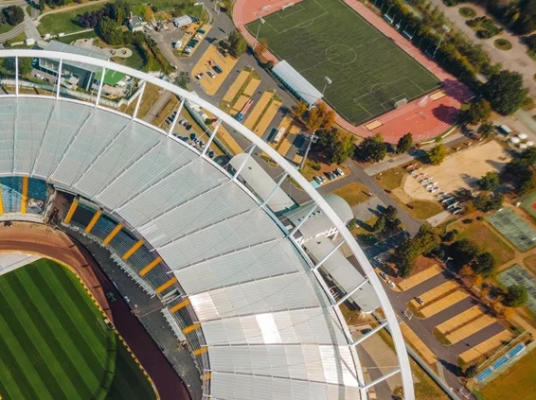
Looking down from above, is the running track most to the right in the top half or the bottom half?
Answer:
top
